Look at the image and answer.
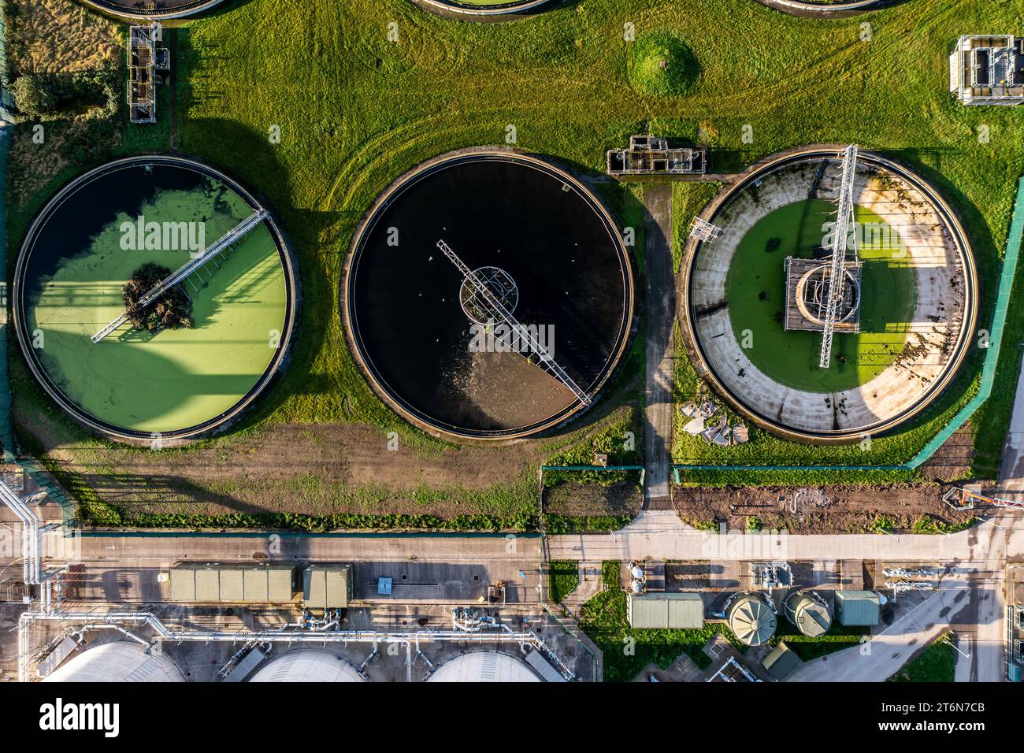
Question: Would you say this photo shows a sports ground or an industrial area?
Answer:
industrial area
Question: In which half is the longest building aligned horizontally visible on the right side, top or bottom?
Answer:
bottom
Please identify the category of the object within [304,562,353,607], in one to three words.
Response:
building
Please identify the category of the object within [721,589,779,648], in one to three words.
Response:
storage tank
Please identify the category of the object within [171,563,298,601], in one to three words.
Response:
building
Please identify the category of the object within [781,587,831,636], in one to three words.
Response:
storage tank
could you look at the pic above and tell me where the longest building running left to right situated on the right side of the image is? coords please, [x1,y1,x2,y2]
[626,591,703,628]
